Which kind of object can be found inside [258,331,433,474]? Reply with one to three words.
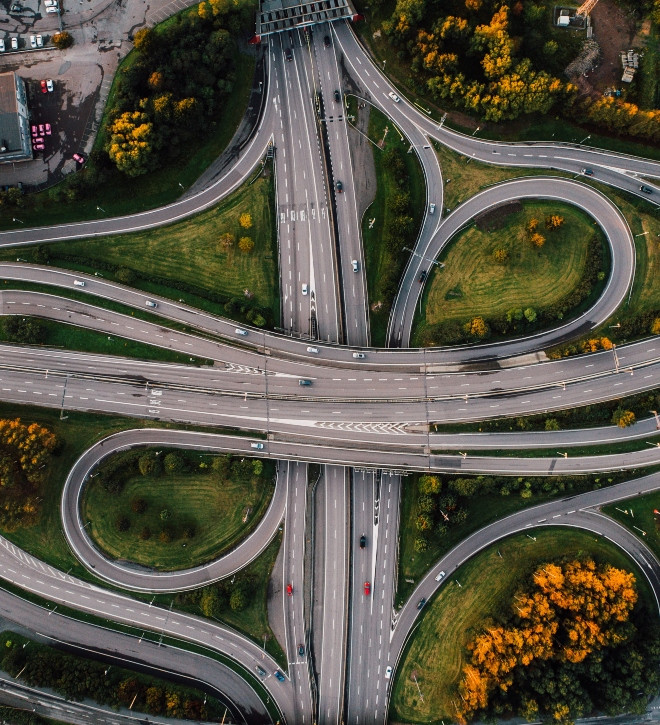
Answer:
bridge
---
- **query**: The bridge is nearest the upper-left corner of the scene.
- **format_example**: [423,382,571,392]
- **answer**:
[246,0,363,49]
